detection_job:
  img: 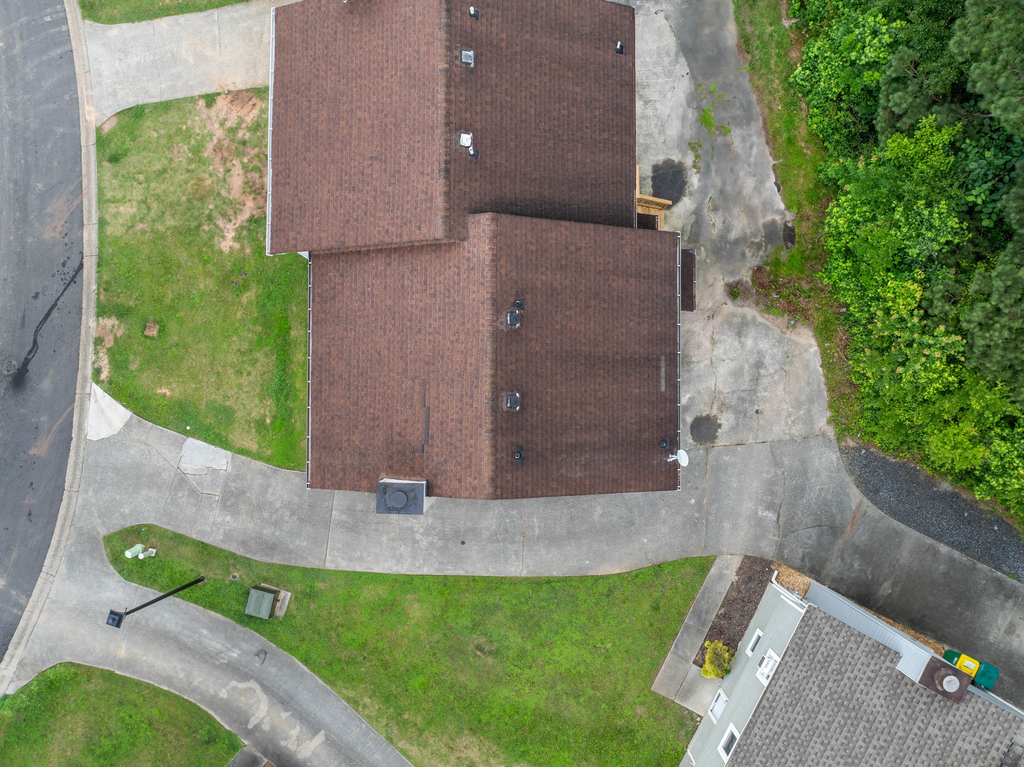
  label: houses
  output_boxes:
[672,569,1024,767]
[267,0,696,513]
